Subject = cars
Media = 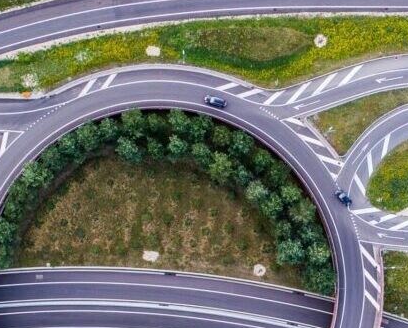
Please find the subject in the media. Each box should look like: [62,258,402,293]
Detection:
[204,94,227,108]
[332,188,354,207]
